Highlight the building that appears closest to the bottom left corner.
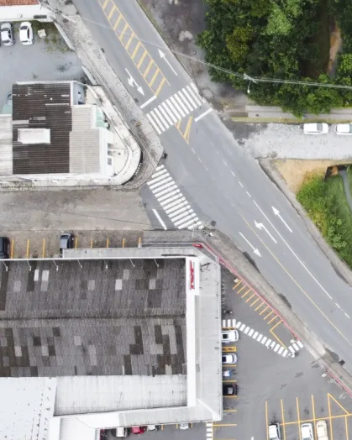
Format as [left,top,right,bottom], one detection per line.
[0,242,230,440]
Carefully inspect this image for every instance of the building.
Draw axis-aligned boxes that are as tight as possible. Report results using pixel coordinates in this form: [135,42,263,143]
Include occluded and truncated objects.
[0,0,67,28]
[0,81,149,187]
[0,242,230,440]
